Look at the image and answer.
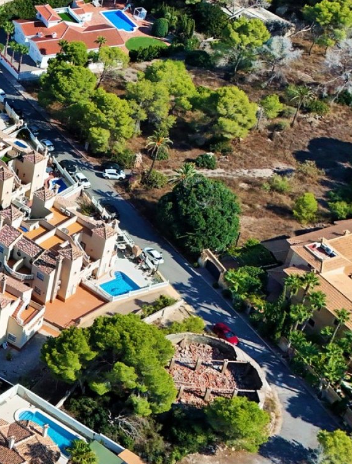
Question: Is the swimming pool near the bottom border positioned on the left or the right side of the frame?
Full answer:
The swimming pool near the bottom border is on the left side of the image.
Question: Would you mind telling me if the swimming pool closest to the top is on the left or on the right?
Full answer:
It is on the left.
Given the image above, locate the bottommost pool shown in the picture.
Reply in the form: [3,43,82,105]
[16,407,76,458]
